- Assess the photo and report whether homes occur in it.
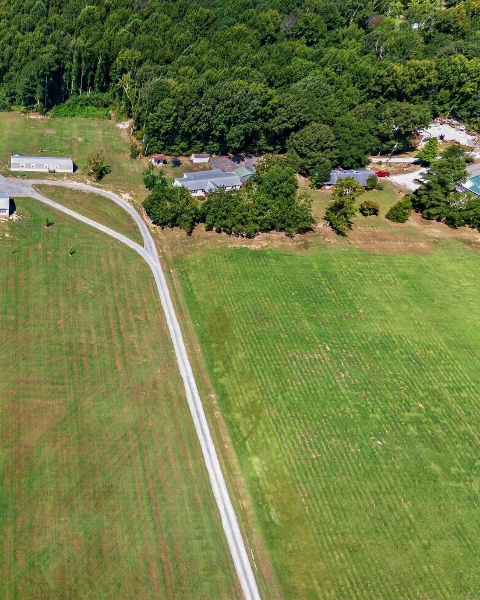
Yes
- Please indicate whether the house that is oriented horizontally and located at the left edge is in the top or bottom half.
top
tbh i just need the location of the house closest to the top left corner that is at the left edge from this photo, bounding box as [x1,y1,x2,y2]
[10,156,73,176]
